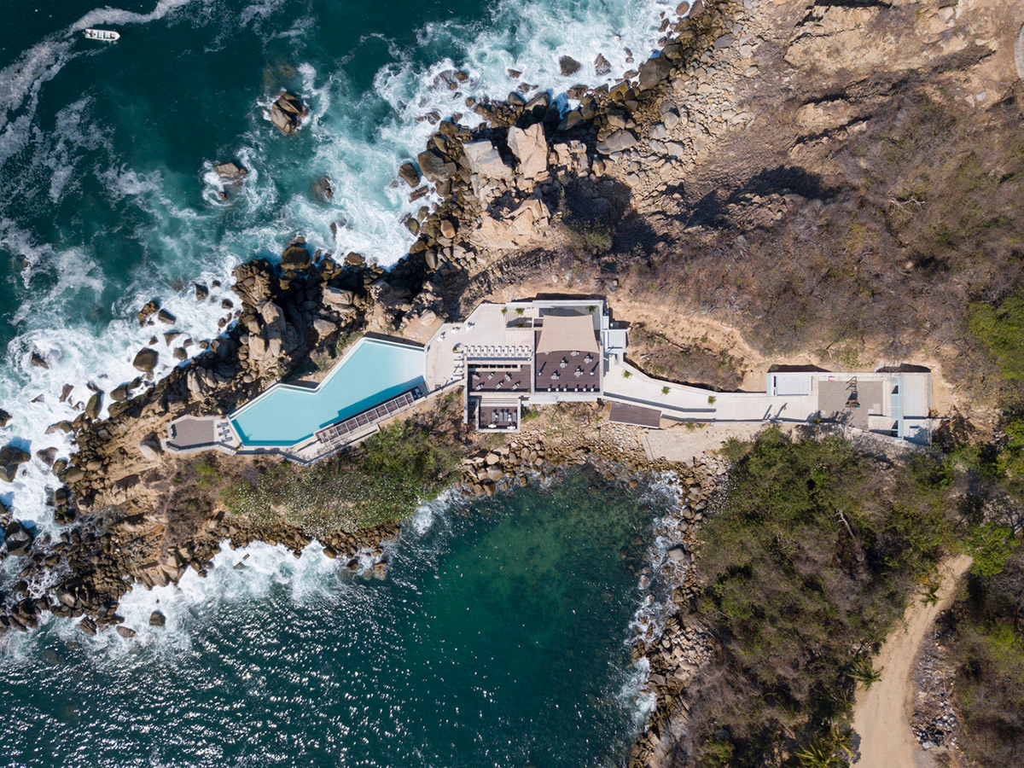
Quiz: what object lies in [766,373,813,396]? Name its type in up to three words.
building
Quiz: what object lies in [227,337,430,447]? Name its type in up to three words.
swimming pool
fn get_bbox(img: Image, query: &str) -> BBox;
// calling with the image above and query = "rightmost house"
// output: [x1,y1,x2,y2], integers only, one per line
[889,373,931,449]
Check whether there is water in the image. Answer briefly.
Yes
